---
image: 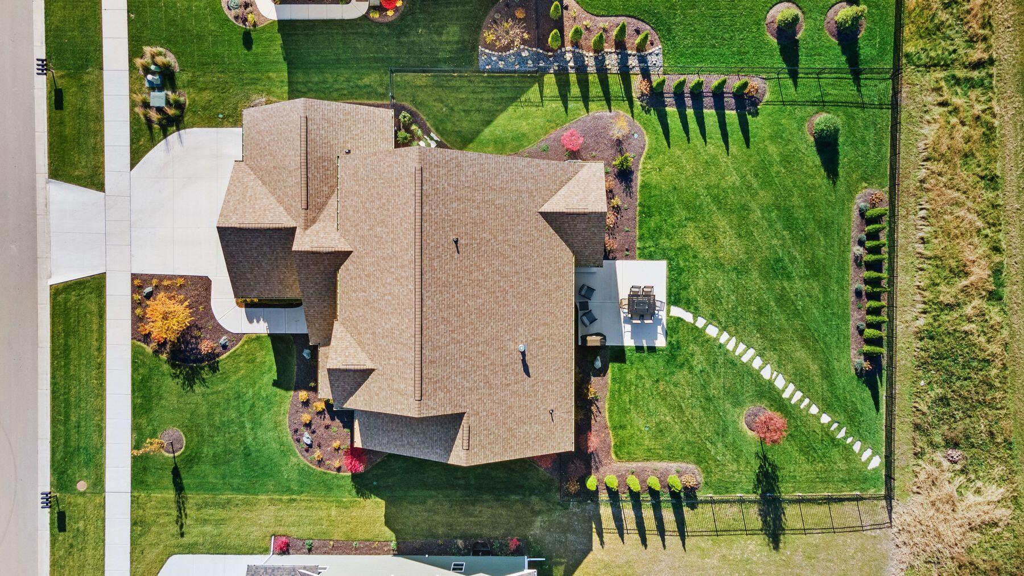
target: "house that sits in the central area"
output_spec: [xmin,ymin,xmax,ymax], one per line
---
[216,97,608,465]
